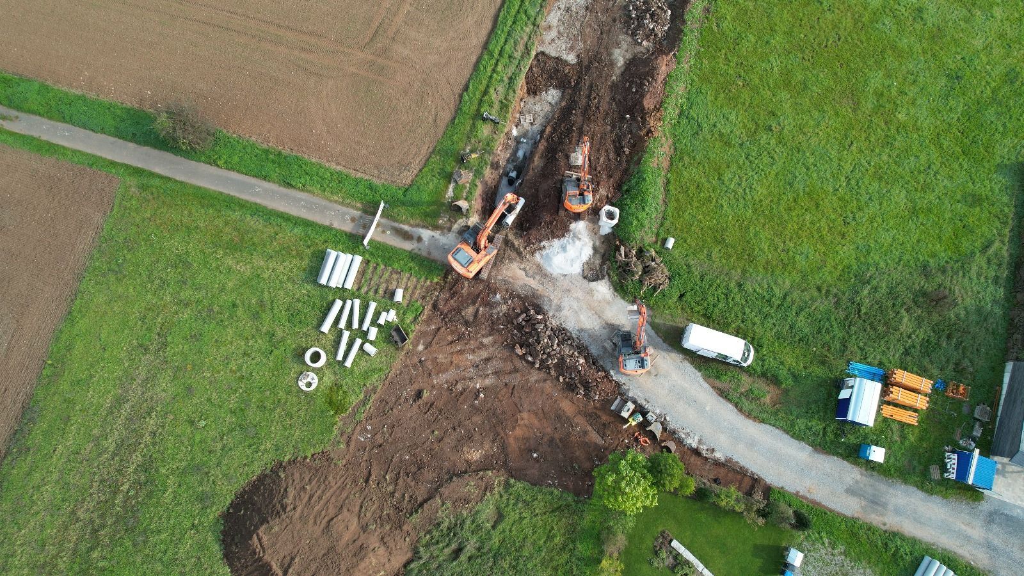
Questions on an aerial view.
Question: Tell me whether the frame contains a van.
Yes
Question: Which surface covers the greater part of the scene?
grass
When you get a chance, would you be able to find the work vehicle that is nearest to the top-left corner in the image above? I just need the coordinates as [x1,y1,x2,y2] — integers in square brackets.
[450,195,519,280]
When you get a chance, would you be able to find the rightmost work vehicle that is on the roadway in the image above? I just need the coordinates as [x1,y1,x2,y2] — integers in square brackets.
[606,306,661,383]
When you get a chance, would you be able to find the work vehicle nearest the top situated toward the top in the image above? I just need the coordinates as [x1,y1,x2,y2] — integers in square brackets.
[559,139,592,216]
